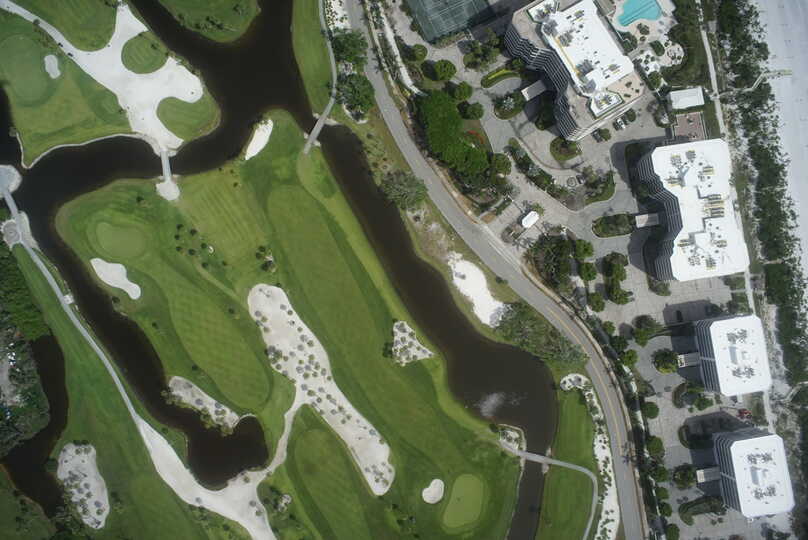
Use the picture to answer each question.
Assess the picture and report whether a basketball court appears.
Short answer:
No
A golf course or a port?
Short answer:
golf course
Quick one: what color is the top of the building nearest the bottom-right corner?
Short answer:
white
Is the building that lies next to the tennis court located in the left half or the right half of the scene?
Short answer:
right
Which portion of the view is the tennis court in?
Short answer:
top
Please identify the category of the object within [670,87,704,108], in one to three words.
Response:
building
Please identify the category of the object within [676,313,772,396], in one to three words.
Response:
building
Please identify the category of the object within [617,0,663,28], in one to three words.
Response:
swimming pool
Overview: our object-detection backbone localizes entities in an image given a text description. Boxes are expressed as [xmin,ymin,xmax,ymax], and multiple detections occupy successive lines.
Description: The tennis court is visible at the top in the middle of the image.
[413,0,489,41]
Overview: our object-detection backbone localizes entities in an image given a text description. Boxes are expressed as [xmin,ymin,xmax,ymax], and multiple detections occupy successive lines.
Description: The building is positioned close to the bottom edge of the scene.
[695,427,795,519]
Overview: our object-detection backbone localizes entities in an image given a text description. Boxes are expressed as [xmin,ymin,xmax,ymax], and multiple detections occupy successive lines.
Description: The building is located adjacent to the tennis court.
[506,0,645,139]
